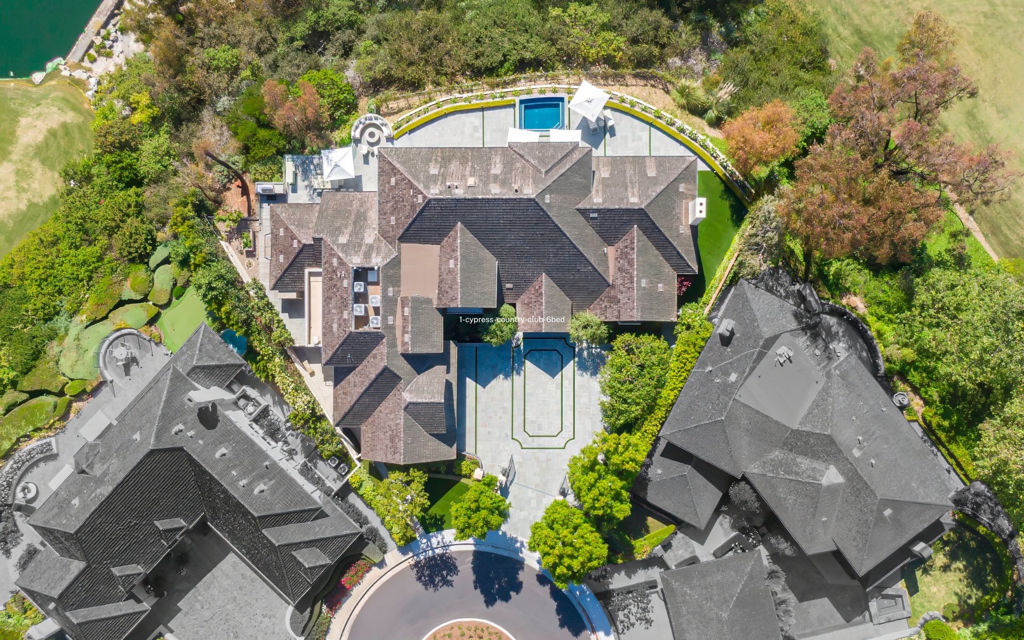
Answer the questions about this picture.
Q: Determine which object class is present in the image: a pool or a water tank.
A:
pool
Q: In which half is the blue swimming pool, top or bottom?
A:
top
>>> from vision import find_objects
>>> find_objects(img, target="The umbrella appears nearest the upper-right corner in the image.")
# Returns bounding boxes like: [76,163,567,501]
[568,80,610,122]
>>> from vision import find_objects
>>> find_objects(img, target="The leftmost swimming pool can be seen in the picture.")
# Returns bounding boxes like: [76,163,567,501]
[515,92,573,135]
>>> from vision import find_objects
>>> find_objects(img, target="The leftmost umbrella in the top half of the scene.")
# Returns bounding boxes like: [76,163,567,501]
[322,147,355,181]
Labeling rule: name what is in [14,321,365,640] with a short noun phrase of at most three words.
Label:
house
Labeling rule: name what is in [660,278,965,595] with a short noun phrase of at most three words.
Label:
house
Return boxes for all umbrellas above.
[322,147,355,181]
[508,128,540,142]
[568,80,610,122]
[550,129,581,142]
